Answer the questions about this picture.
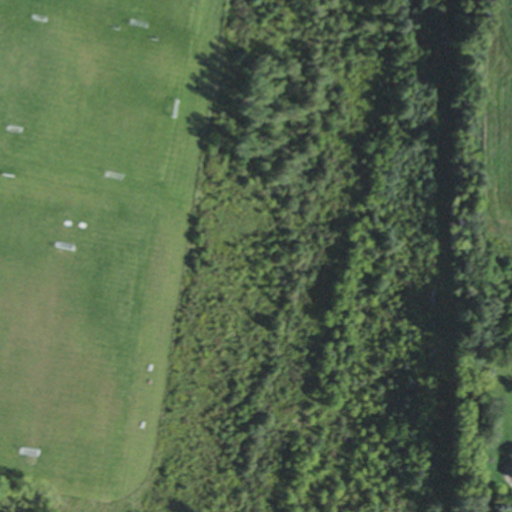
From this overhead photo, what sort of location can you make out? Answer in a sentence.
It's a sports ground.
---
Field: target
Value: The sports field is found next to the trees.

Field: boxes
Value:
[0,0,224,512]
